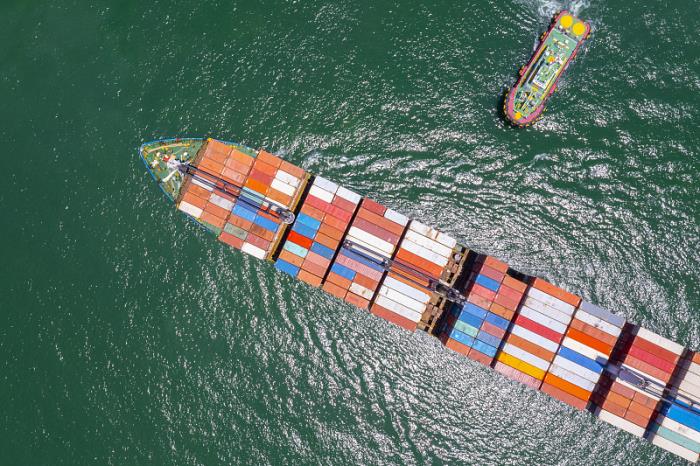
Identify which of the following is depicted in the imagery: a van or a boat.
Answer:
boat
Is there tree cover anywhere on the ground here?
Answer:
No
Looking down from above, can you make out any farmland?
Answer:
No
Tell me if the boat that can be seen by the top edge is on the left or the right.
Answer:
right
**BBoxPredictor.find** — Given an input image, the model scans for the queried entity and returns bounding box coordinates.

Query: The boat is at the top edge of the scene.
[503,12,589,128]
